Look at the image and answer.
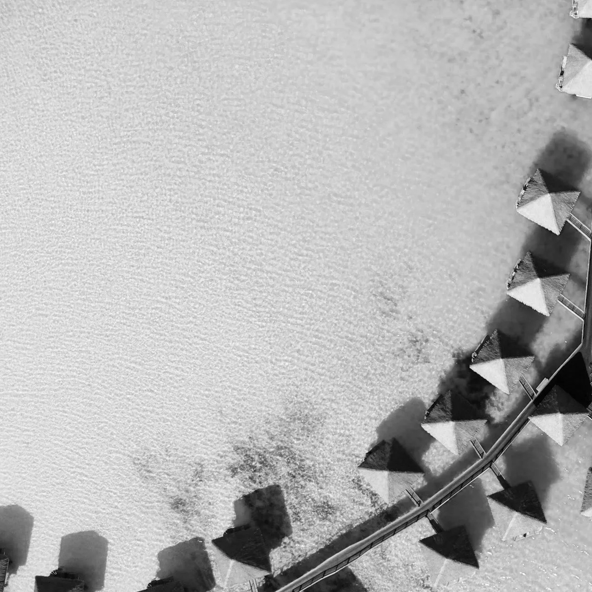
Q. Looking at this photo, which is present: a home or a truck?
home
